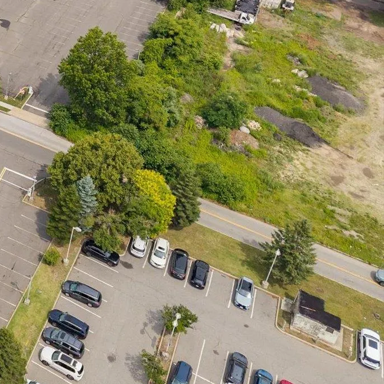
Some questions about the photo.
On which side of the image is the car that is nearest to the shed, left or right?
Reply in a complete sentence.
The car that is nearest to the shed appears in the right half of the scene.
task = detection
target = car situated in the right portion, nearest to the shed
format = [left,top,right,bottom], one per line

[356,331,384,371]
